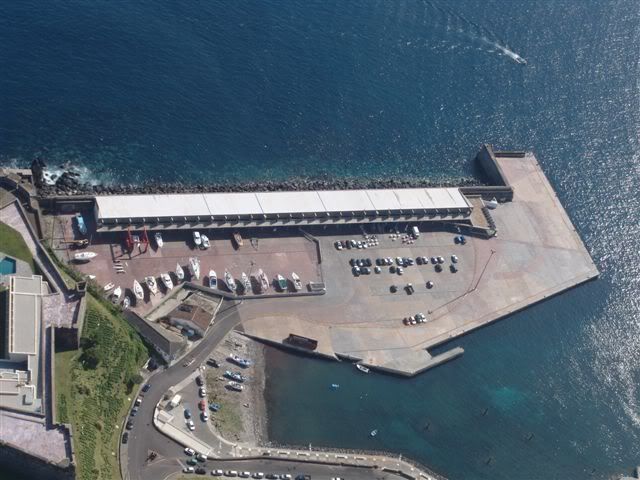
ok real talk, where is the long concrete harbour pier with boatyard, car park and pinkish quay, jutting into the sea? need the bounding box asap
[52,152,598,379]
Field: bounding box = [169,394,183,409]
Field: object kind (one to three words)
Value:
vehicle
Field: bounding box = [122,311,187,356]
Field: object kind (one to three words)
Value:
shed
